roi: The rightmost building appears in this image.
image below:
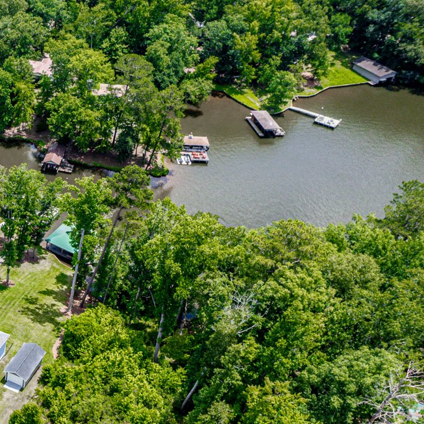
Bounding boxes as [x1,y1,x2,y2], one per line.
[353,54,412,86]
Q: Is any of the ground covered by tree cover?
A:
Yes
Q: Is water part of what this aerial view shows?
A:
Yes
